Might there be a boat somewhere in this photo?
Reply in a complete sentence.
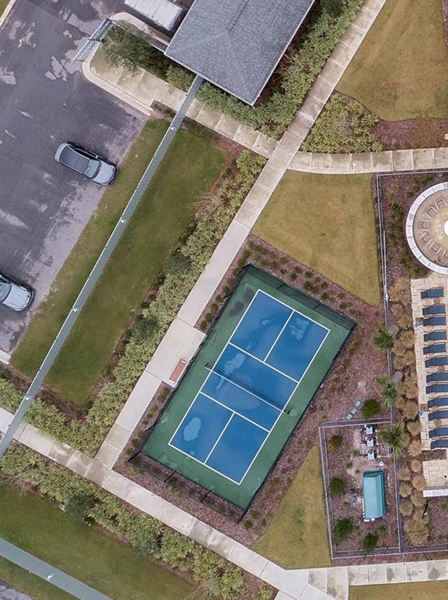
No, there is no boat in the image.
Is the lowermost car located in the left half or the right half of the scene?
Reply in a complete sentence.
You can find the lowermost car on the left side of the picture.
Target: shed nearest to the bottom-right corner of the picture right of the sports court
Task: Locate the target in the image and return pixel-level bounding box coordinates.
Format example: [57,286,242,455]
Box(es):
[360,475,383,524]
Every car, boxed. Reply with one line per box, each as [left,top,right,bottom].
[47,141,116,188]
[0,270,33,311]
